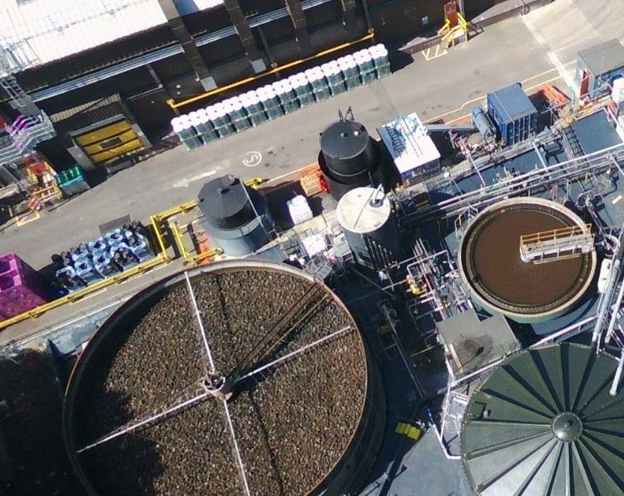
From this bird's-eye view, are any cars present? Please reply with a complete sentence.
No, this view has no car in it.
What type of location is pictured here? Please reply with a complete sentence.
It's an industrial area.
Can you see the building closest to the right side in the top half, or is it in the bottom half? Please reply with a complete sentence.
You can find the building closest to the right side in the top half.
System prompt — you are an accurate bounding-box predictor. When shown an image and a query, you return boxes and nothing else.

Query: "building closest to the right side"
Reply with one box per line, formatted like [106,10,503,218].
[574,38,624,103]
